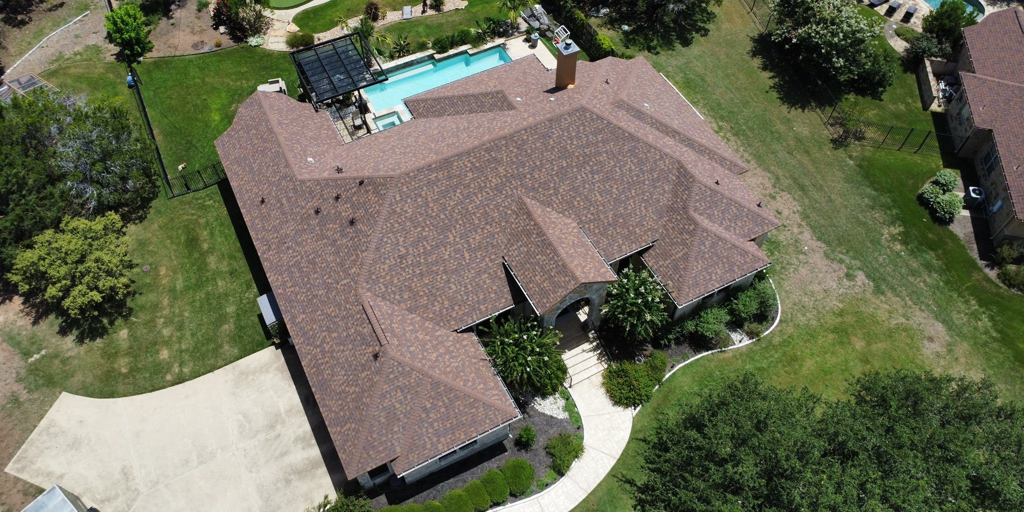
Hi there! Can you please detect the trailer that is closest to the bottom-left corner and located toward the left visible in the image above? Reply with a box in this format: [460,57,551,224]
[20,483,90,512]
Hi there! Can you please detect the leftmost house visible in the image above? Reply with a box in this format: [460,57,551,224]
[214,41,780,491]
